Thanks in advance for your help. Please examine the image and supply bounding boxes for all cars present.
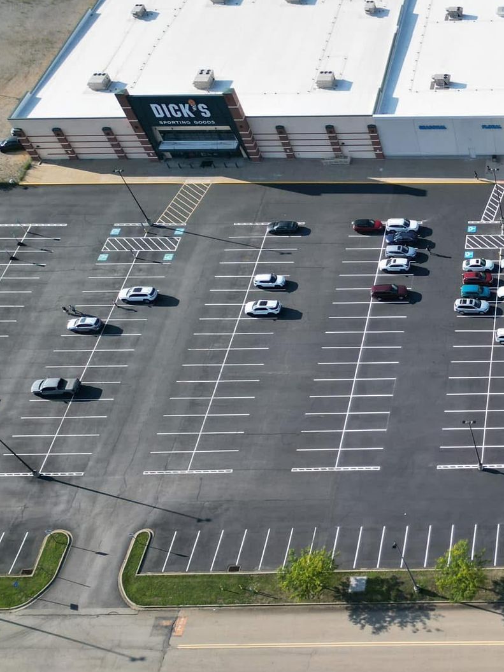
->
[370,284,408,302]
[386,218,419,234]
[244,301,282,317]
[268,221,300,236]
[454,298,490,316]
[119,288,158,304]
[386,232,418,247]
[379,259,411,275]
[497,288,504,301]
[385,245,417,260]
[253,275,287,290]
[0,137,26,155]
[460,284,491,300]
[66,317,104,334]
[494,328,504,345]
[352,221,383,234]
[461,272,494,286]
[462,260,494,273]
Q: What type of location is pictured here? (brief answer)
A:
parking lot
